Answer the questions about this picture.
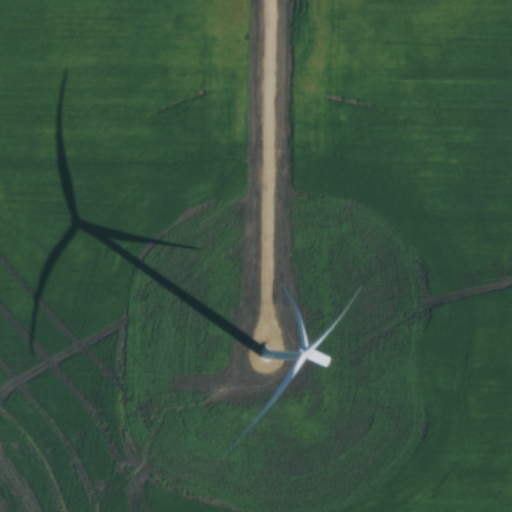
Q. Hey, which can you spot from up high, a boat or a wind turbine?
wind turbine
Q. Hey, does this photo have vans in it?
No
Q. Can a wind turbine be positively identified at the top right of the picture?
No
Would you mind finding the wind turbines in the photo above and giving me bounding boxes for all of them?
[220,254,380,460]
